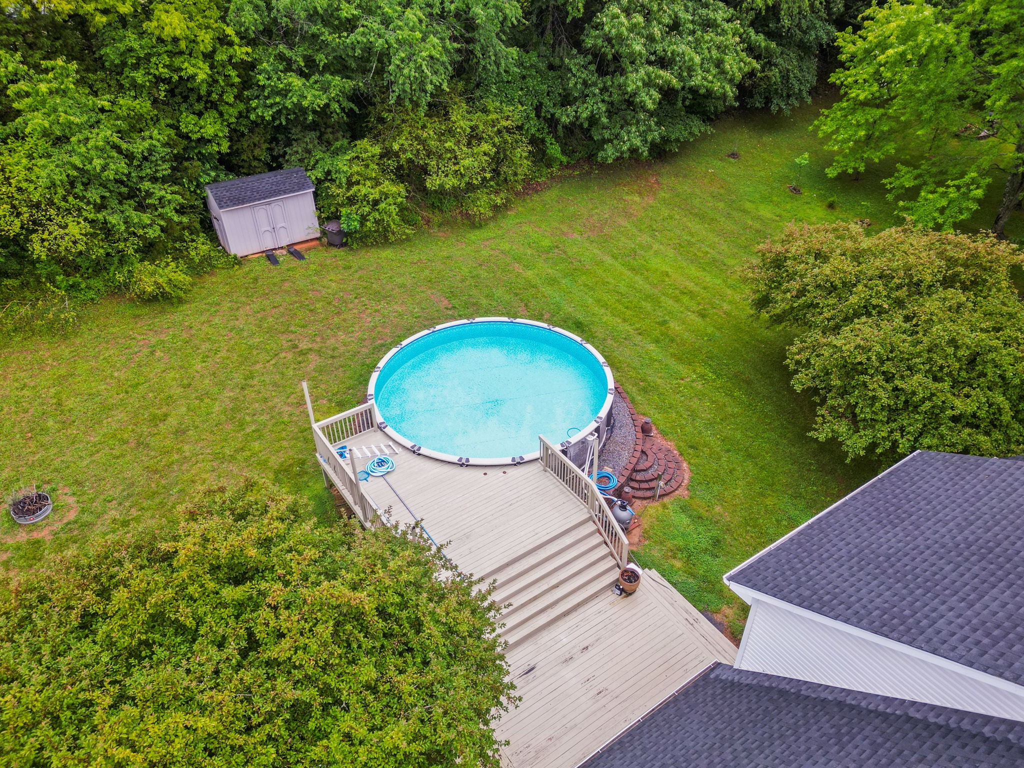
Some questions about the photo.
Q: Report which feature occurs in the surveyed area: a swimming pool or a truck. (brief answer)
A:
swimming pool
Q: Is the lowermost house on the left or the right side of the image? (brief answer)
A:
right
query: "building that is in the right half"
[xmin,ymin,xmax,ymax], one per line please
[565,437,1024,768]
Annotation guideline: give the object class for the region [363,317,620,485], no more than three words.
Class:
swimming pool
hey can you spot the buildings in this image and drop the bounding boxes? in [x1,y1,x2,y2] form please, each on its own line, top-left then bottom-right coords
[200,166,320,261]
[565,437,1024,768]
